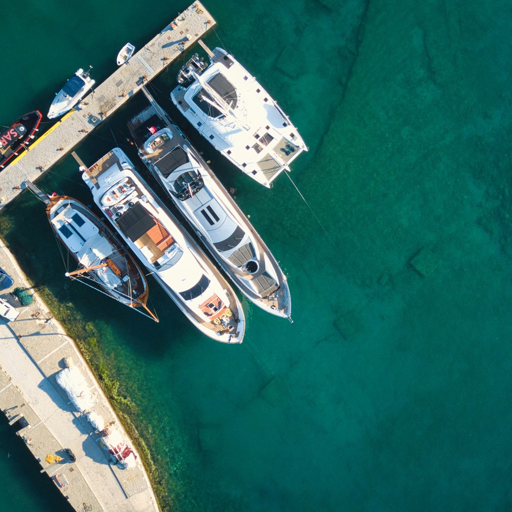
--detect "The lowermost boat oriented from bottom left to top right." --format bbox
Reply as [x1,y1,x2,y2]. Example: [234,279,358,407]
[102,174,139,205]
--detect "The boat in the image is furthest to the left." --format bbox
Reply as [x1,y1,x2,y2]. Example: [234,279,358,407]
[0,108,43,168]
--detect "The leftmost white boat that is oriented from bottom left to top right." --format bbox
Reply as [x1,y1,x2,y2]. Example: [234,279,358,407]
[46,65,97,119]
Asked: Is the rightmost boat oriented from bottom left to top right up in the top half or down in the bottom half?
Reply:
top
